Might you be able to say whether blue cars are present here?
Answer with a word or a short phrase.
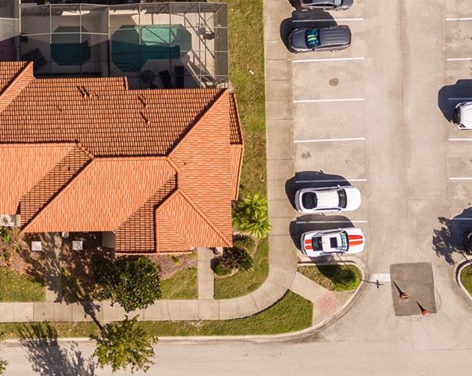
No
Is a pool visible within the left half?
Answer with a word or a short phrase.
Yes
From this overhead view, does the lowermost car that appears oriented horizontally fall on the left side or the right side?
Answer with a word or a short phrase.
right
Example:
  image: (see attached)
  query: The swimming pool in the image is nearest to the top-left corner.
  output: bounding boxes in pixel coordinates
[51,26,91,65]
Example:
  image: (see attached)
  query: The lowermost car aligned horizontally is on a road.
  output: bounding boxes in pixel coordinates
[299,225,363,256]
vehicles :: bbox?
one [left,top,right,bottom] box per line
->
[291,0,353,12]
[286,22,353,54]
[459,228,472,253]
[454,102,472,130]
[292,183,359,214]
[299,225,363,256]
